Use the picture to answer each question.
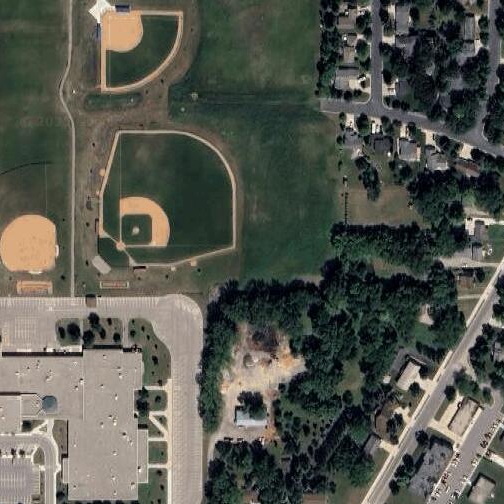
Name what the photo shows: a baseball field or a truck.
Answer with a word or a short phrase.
baseball field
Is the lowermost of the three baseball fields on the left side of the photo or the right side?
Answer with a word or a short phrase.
left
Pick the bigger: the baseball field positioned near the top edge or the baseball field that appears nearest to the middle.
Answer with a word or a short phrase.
the baseball field that appears nearest to the middle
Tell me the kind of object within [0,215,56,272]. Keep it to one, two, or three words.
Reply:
baseball field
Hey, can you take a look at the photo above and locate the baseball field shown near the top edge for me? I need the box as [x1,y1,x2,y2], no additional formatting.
[101,10,183,92]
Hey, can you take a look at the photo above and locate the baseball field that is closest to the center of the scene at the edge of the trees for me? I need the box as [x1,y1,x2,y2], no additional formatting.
[98,131,235,268]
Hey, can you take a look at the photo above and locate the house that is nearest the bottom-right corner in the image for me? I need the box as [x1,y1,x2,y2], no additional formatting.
[469,477,495,504]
